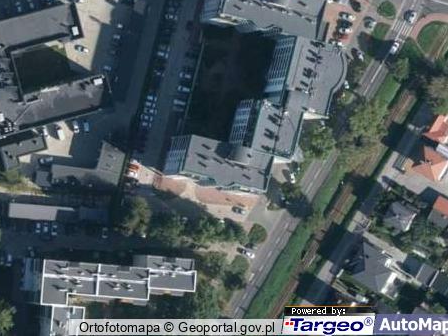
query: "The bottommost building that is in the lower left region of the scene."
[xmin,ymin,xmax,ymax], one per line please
[42,305,84,336]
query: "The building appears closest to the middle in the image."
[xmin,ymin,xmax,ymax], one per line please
[166,134,273,195]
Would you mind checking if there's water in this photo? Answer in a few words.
No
